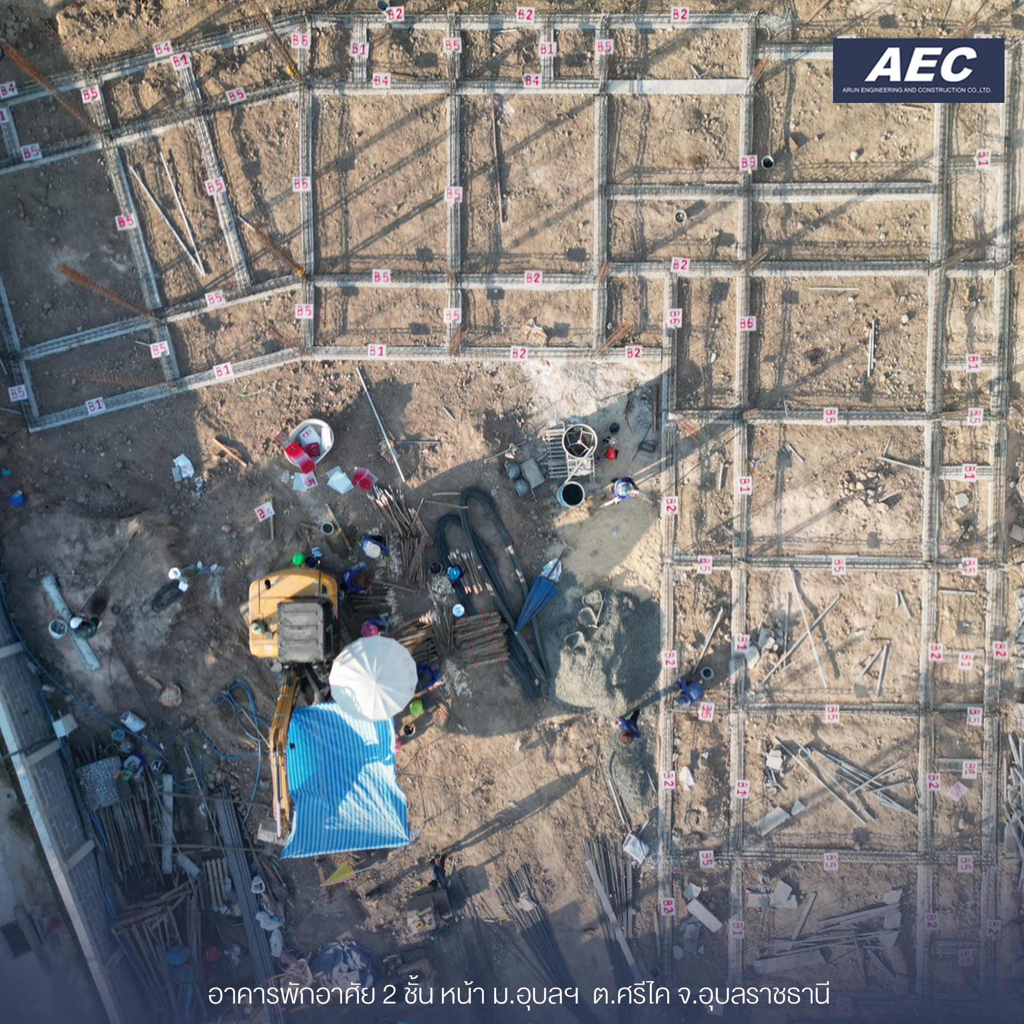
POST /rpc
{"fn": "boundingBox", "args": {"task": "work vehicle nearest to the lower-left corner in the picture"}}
[250,566,345,854]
